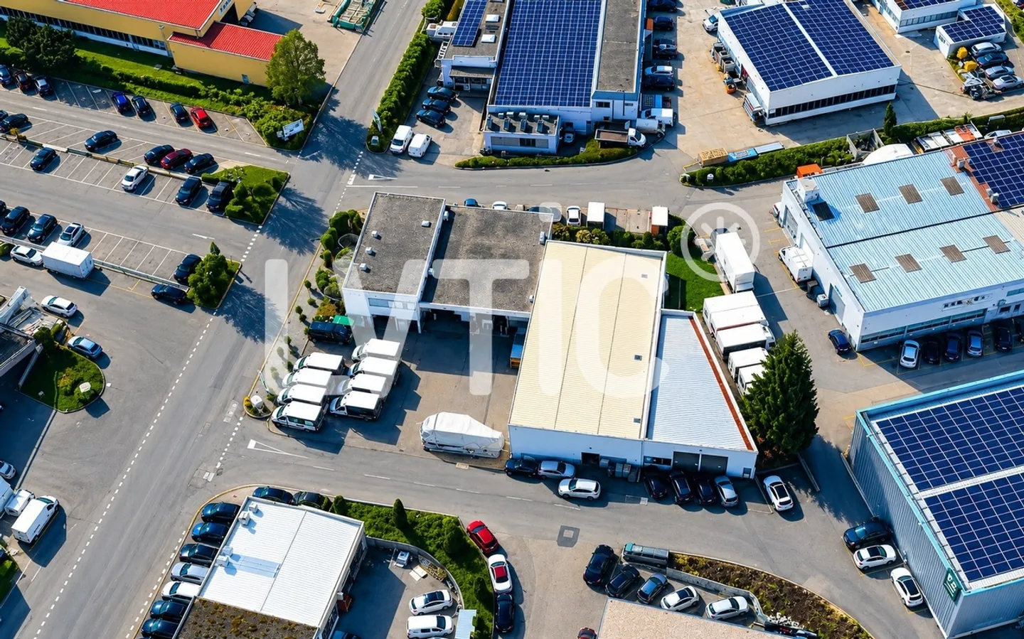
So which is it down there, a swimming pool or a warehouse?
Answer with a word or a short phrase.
warehouse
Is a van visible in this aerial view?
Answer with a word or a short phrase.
Yes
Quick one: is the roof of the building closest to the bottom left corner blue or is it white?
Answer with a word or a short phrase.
white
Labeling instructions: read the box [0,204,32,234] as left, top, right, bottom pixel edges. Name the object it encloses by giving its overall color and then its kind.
black car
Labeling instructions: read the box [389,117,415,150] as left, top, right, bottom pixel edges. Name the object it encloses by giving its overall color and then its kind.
white vehicle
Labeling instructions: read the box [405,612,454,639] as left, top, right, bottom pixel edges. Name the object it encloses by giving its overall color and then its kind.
white vehicle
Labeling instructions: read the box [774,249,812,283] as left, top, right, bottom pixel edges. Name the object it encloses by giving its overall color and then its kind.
white truck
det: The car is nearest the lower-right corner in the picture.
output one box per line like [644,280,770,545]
[889,567,928,607]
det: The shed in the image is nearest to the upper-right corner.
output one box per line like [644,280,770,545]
[933,4,1007,61]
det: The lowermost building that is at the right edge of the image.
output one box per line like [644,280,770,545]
[844,370,1024,635]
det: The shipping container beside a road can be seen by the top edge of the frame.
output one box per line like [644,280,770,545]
[328,0,379,28]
